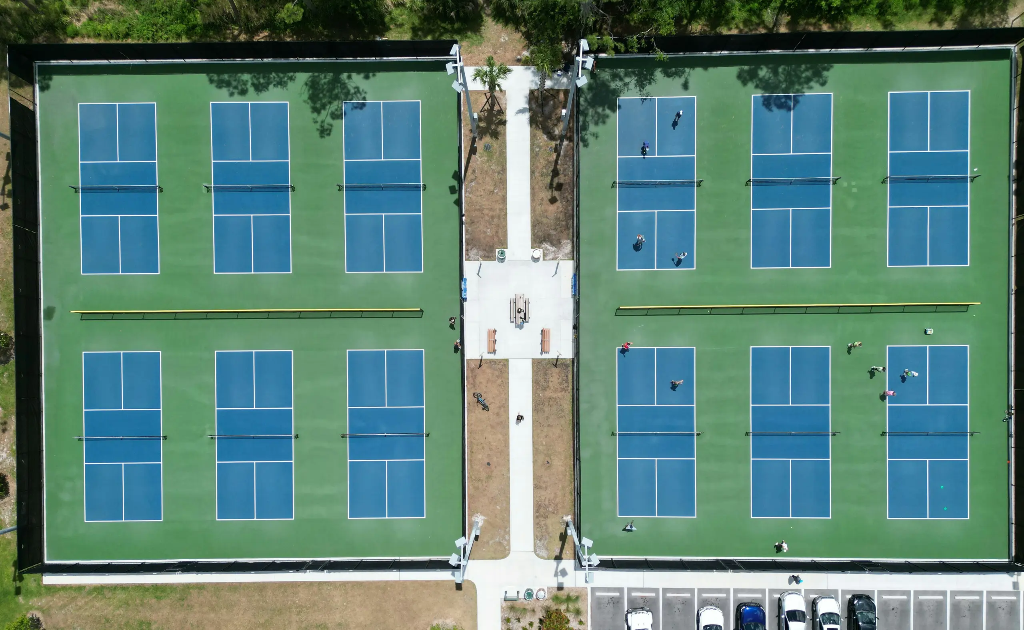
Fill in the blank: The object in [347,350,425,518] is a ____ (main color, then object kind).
blue sports court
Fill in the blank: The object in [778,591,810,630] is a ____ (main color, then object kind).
white car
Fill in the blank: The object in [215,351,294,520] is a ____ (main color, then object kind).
blue sports court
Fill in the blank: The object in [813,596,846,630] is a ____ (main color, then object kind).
white car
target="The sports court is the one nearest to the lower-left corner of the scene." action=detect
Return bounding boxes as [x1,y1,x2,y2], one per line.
[82,352,162,521]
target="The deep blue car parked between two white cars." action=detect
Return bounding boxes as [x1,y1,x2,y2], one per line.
[737,603,769,630]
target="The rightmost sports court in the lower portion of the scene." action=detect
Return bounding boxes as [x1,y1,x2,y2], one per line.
[887,345,969,519]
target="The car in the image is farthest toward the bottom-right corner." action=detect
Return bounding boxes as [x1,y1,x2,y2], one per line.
[848,595,882,630]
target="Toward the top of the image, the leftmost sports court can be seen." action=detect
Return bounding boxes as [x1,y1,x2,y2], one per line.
[78,102,159,274]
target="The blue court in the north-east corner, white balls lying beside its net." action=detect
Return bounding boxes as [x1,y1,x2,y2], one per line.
[888,90,970,266]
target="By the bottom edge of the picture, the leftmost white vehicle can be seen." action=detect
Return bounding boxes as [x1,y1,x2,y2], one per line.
[625,607,651,630]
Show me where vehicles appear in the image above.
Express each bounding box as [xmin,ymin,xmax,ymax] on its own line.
[625,607,651,630]
[696,608,722,630]
[848,595,882,630]
[737,603,769,630]
[778,591,810,630]
[813,596,846,630]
